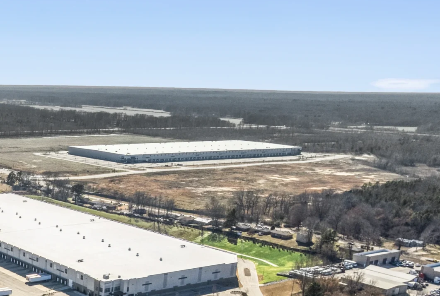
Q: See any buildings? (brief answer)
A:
Yes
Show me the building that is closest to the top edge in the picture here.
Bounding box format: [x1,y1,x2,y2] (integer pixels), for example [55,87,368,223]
[63,140,305,164]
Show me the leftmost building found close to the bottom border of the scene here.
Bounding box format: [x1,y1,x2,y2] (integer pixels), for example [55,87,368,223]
[0,195,246,296]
